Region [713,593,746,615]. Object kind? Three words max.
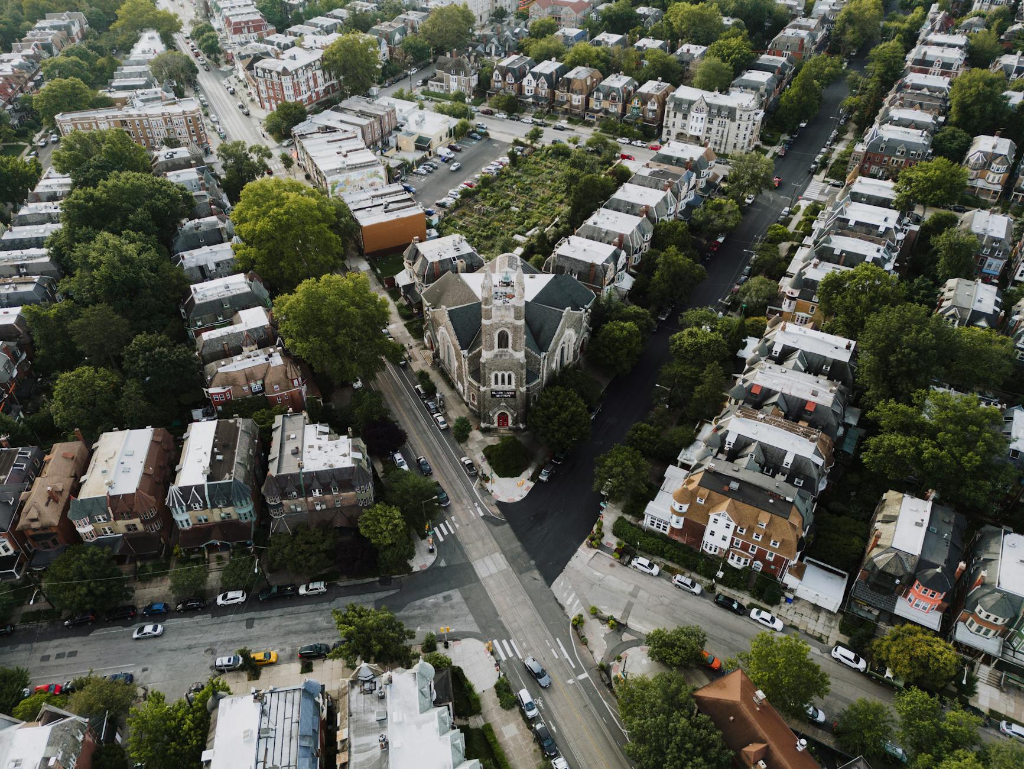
car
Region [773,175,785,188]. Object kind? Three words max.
vehicle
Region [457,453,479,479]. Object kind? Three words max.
truck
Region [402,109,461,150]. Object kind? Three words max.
building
